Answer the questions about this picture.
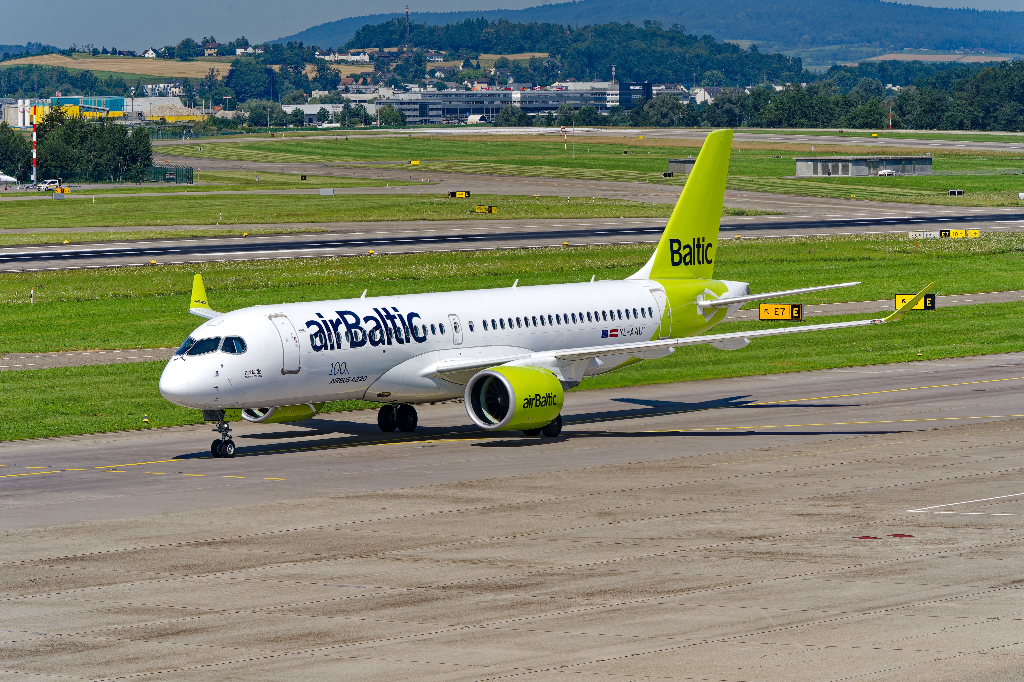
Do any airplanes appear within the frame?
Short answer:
Yes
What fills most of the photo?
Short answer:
paved ground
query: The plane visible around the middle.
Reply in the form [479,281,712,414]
[158,129,939,458]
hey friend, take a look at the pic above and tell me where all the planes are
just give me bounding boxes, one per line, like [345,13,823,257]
[0,173,17,189]
[158,129,939,458]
